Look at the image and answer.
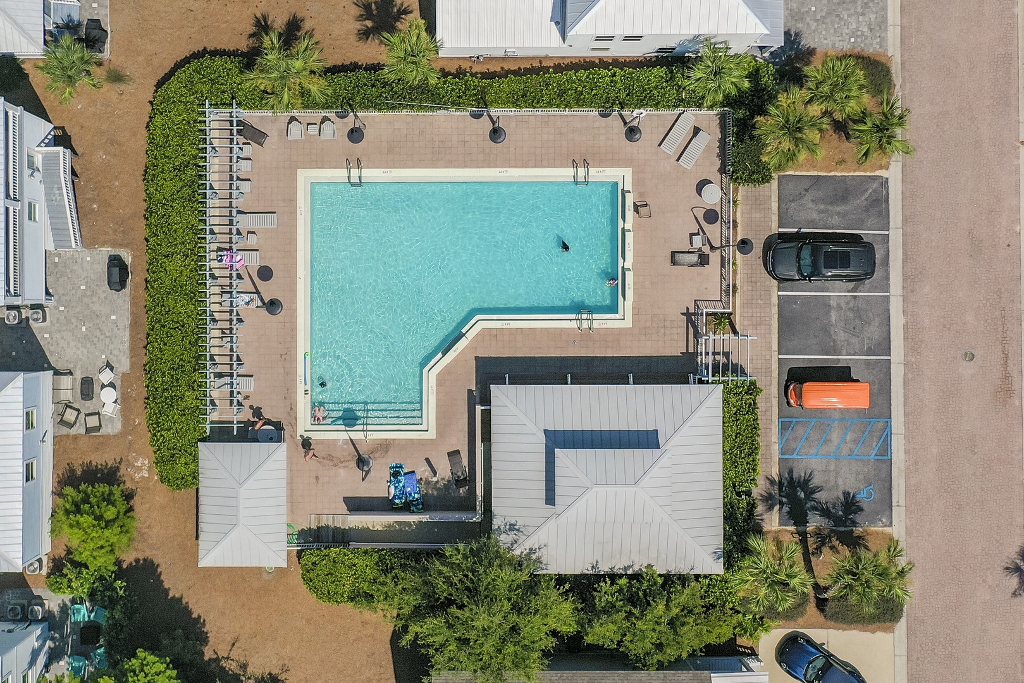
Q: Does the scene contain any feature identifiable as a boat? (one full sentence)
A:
No, the scene contains no boat.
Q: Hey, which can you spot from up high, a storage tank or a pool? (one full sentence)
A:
Of the two, only a pool appears.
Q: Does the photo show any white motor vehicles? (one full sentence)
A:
No, no white motor vehicle can be seen from above.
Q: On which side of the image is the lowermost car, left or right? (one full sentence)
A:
It is on the right.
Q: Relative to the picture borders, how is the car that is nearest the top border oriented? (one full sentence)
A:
The car that is nearest the top border is oriented from left to right.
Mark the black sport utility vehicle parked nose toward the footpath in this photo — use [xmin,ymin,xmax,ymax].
[764,236,876,286]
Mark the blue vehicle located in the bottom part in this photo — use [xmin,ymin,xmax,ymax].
[775,634,870,683]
